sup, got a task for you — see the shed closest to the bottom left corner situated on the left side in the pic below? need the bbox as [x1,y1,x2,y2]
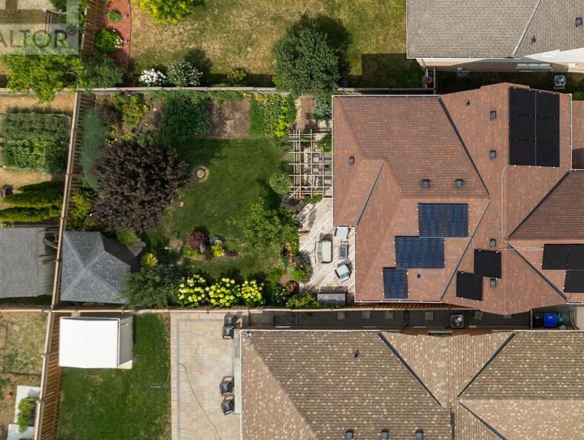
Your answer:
[59,314,133,369]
